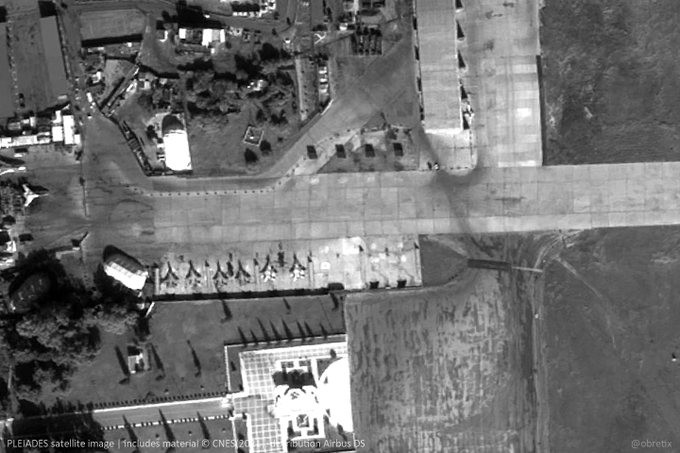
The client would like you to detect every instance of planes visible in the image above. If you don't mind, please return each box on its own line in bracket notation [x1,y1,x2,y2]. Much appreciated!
[261,264,276,287]
[187,268,201,292]
[234,268,249,292]
[289,262,303,286]
[164,269,179,293]
[211,268,226,293]
[22,187,45,207]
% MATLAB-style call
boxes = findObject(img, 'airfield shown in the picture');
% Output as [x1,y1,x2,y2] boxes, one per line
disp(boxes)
[0,0,680,298]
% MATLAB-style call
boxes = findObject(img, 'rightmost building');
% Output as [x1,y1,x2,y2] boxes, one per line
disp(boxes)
[414,0,473,134]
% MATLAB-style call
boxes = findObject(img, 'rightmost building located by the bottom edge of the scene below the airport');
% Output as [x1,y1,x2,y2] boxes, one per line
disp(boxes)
[268,383,325,441]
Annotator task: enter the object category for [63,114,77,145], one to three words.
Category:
building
